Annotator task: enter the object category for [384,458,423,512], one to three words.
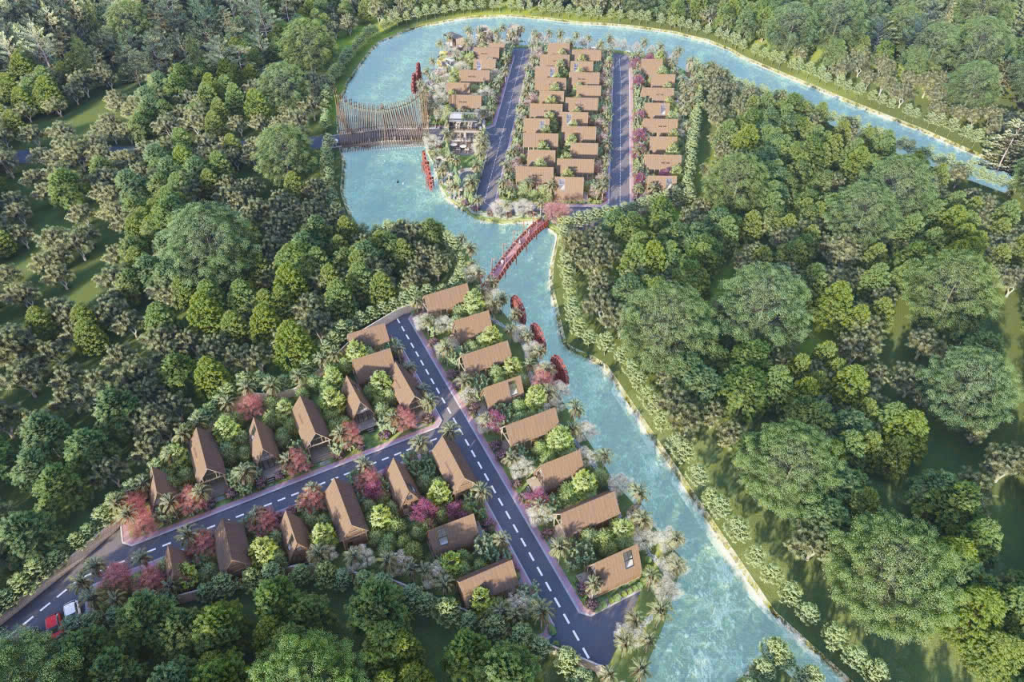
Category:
house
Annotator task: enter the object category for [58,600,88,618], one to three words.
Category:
car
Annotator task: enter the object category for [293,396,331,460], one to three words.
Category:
house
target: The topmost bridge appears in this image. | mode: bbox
[325,86,428,148]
